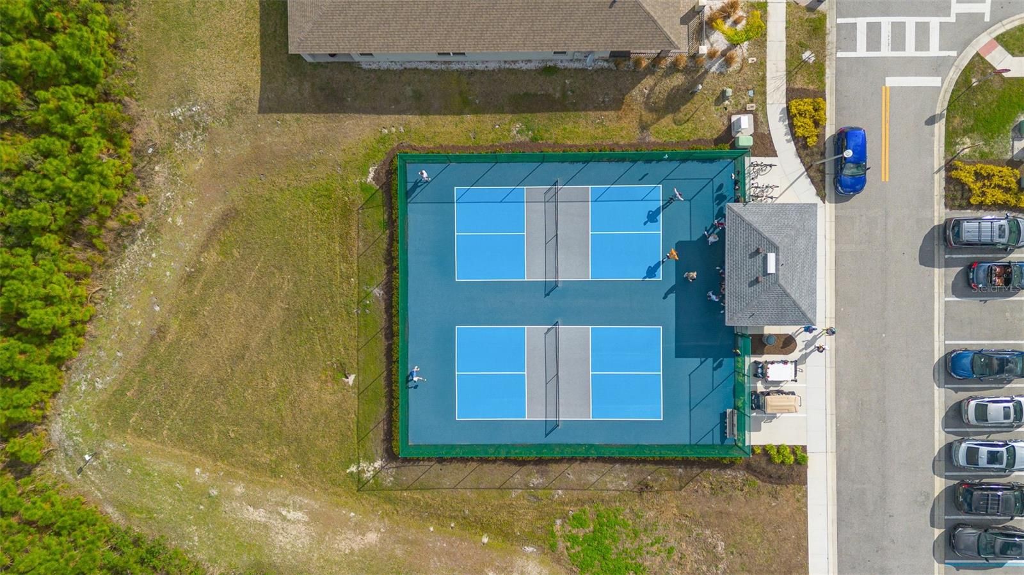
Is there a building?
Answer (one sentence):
Yes, the picture does show a building.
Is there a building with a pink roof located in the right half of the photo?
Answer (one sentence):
No, no building with a pink roof can be made out in the right half of the photo.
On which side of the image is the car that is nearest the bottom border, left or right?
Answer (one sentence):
It is on the right.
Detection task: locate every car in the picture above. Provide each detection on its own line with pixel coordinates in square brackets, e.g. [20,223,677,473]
[951,481,1024,520]
[940,213,1024,251]
[945,347,1024,383]
[964,259,1024,295]
[949,438,1024,475]
[831,125,871,196]
[959,394,1024,430]
[948,524,1024,564]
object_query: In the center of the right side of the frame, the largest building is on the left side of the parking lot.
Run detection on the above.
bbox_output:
[721,203,818,326]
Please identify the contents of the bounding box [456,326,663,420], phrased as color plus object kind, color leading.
blue sports court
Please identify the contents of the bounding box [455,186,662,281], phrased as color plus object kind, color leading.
blue sports court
